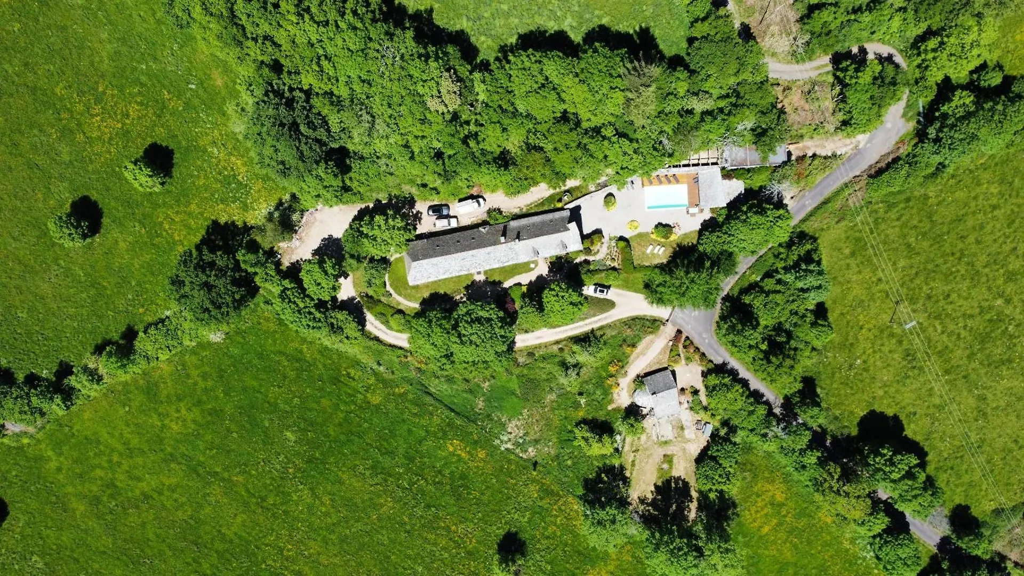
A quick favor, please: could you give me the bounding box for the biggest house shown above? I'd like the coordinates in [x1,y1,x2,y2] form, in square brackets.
[402,208,583,286]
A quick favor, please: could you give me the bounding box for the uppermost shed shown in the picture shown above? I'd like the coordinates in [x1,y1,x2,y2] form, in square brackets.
[715,144,787,168]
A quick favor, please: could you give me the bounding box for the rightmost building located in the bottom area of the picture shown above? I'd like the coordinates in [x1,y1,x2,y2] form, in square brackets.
[639,370,680,418]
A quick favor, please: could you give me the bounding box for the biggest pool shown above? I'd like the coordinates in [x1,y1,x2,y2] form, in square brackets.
[643,182,690,212]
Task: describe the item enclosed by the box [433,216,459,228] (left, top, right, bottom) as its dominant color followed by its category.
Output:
white vehicle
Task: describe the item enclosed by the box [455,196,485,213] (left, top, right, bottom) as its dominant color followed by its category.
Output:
white vehicle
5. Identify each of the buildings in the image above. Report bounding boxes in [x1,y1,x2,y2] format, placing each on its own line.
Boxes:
[639,370,680,418]
[715,144,787,168]
[402,208,583,286]
[695,166,726,209]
